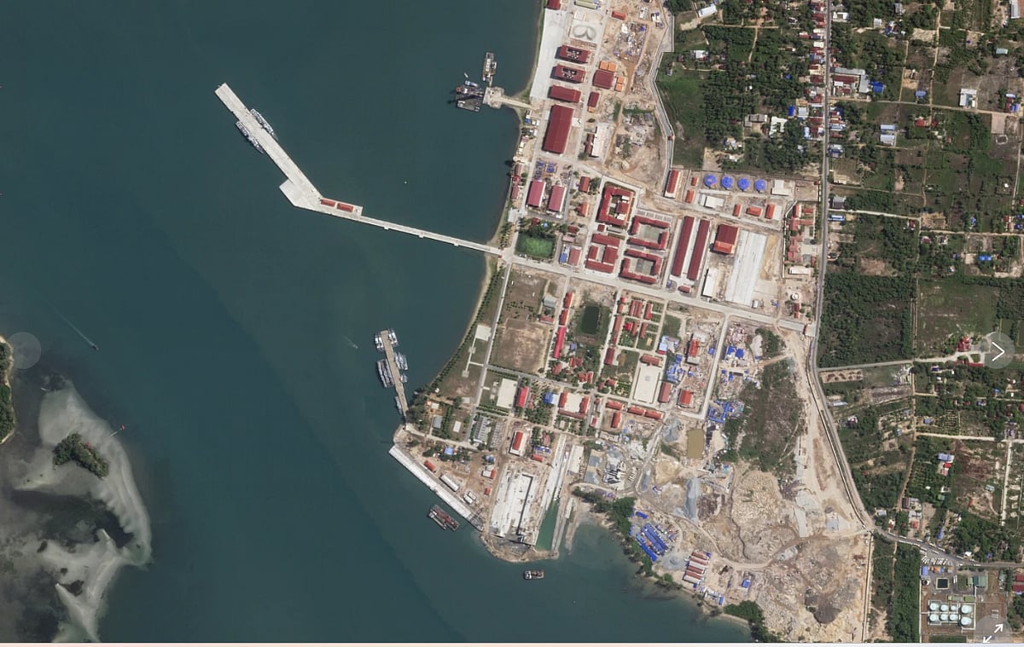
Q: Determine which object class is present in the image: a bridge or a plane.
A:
bridge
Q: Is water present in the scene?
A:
Yes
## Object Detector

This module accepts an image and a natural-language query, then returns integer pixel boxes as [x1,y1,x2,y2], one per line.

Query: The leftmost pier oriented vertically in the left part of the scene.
[381,330,409,424]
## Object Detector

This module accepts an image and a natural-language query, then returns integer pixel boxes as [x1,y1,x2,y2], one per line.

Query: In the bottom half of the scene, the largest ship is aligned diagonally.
[431,505,460,531]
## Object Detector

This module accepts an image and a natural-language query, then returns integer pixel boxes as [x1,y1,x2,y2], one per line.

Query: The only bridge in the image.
[359,215,504,255]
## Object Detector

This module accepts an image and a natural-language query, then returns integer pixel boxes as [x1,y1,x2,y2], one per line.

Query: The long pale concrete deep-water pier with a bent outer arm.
[215,82,363,220]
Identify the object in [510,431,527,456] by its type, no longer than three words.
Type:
building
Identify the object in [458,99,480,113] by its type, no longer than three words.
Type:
ship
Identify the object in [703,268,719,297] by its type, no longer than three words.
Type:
shed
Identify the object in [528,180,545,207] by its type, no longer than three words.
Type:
building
